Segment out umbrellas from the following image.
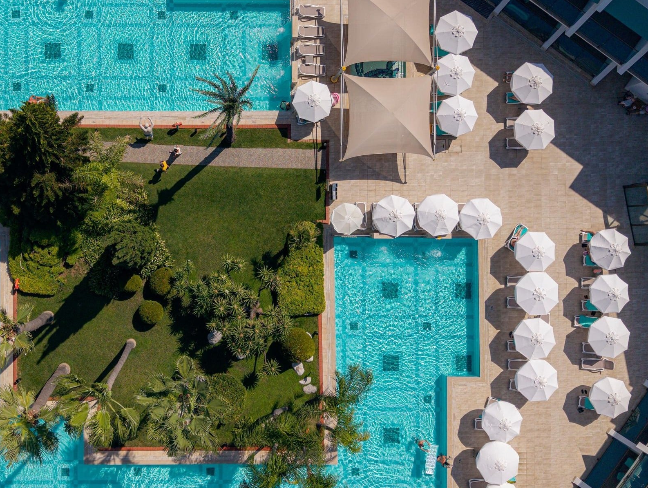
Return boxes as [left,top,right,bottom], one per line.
[416,193,460,237]
[475,441,519,485]
[511,109,555,152]
[510,230,556,273]
[515,271,558,313]
[510,317,556,361]
[587,230,631,271]
[437,11,479,56]
[511,63,554,107]
[458,197,503,242]
[371,193,416,238]
[331,203,364,235]
[511,358,557,402]
[435,93,478,138]
[586,272,630,315]
[291,79,333,123]
[480,401,524,443]
[586,375,631,419]
[431,55,473,96]
[586,313,631,358]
